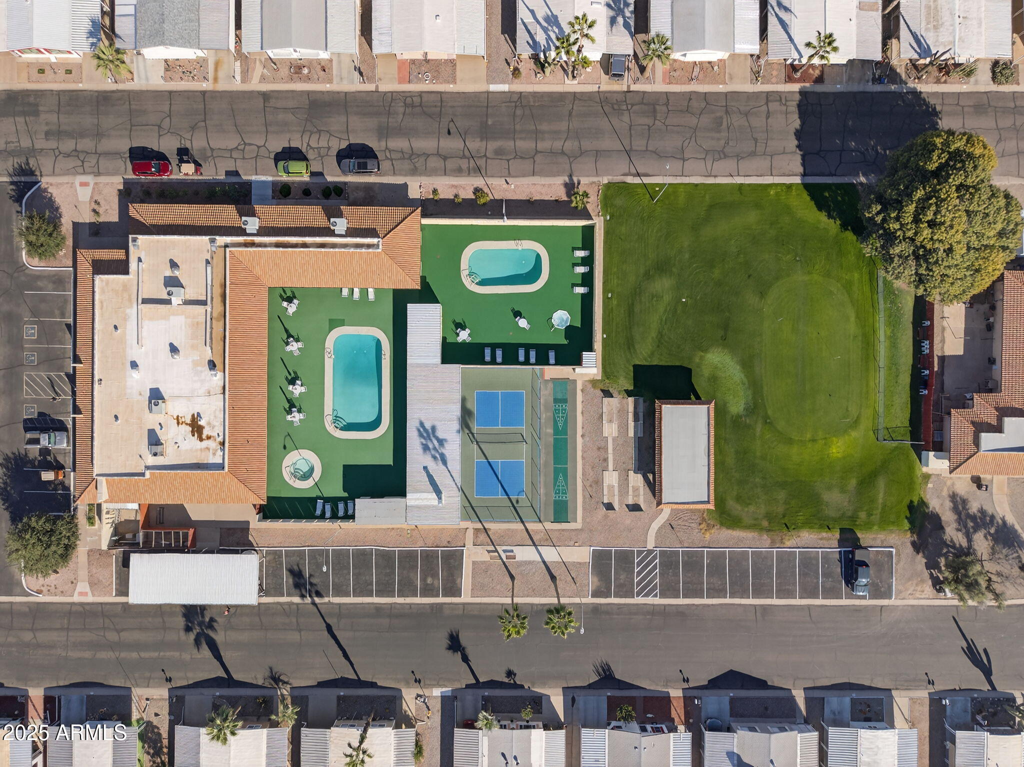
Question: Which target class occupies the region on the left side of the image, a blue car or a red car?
red car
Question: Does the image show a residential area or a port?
residential area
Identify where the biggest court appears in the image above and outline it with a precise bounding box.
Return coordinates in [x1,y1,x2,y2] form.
[461,368,540,523]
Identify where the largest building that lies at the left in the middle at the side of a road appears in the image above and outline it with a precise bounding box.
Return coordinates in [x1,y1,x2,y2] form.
[72,203,421,506]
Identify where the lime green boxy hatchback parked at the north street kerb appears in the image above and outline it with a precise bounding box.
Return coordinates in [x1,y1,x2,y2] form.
[276,158,309,176]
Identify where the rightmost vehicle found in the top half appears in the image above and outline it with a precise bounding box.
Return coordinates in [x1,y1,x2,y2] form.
[610,52,627,79]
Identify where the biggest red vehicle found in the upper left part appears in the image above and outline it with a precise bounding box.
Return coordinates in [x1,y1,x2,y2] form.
[129,158,170,177]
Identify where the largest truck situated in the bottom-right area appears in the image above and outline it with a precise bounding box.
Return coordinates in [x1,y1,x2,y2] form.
[853,549,877,597]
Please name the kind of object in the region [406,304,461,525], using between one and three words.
building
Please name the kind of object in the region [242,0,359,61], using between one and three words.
house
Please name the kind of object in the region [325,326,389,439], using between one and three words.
swimming pool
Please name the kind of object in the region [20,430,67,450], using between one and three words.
vehicle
